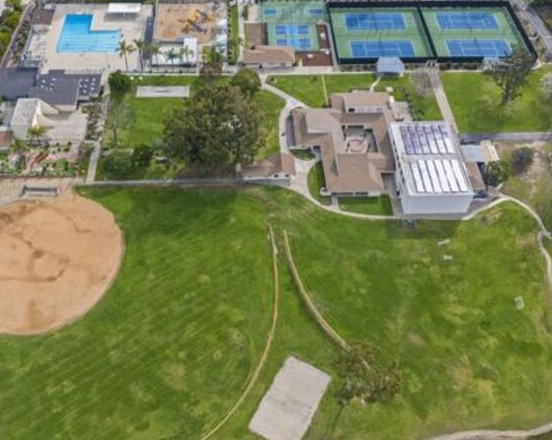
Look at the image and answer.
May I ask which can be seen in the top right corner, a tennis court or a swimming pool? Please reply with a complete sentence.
Visible in the top right corner is a tennis court.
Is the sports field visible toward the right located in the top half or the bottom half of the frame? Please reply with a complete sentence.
Seen from above, the sports field visible toward the right lies in the bottom half of the view.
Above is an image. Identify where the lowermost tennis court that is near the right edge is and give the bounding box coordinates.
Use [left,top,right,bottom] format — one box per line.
[428,34,534,56]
